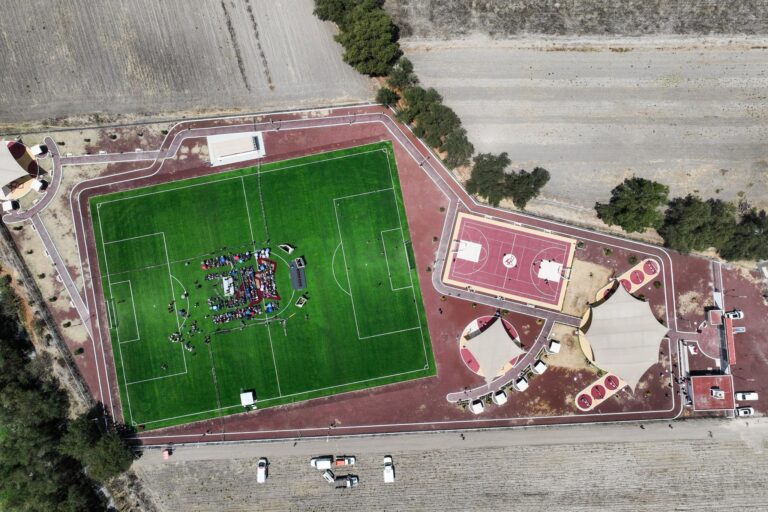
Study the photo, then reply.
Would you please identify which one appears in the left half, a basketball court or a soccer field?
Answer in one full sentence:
The one visible in the left half is a soccer field.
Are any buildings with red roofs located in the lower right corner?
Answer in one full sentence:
Yes, you'll find a building with a red roof in the lower right corner.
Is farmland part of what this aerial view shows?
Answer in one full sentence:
Yes, there's farmland in this view.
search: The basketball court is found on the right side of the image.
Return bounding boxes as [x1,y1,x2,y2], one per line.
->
[442,213,577,311]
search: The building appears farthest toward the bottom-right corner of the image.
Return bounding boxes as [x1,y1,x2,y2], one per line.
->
[688,375,734,411]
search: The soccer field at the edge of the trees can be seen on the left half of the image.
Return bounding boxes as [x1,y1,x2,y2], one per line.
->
[88,140,438,433]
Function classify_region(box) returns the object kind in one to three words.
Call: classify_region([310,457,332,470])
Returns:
vehicle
